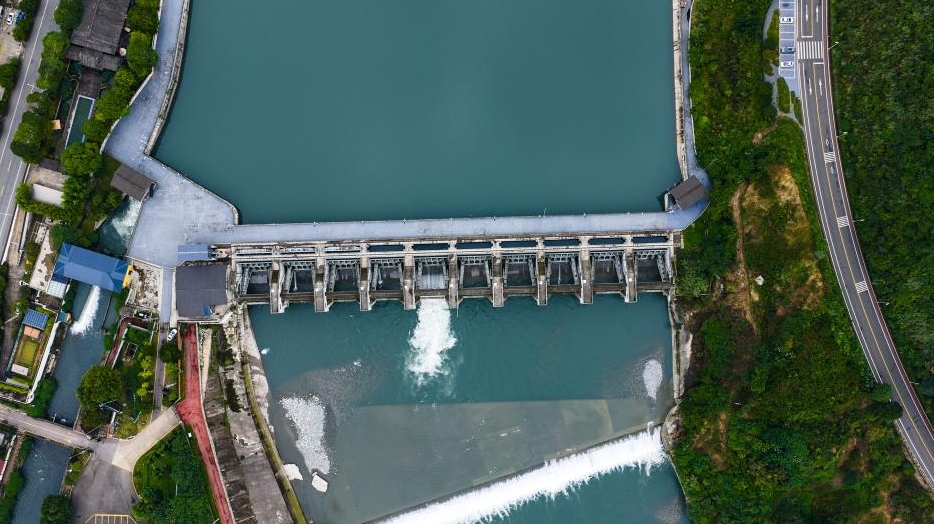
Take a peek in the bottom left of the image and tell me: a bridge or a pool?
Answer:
bridge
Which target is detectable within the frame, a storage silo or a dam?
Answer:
dam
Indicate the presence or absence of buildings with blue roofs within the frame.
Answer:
Yes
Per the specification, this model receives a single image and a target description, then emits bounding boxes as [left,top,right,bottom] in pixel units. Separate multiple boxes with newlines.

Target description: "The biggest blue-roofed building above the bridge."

[54,243,136,292]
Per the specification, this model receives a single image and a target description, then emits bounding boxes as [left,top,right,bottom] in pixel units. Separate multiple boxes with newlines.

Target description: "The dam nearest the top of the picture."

[224,212,683,374]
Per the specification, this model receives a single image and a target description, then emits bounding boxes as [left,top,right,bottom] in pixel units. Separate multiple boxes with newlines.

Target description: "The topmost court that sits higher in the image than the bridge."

[16,337,36,367]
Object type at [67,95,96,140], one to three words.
swimming pool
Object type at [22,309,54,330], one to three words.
house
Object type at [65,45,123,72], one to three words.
building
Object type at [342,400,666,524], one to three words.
dam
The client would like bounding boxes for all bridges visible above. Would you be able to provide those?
[21,413,91,451]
